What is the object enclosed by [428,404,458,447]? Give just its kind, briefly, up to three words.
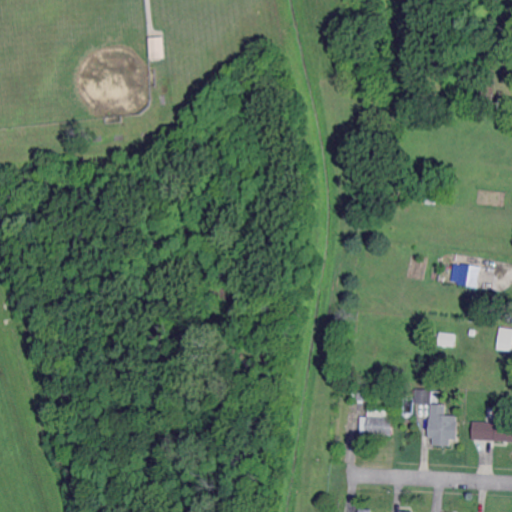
house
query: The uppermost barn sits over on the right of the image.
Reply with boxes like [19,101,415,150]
[450,263,482,290]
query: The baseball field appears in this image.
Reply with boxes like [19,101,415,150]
[76,45,150,117]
